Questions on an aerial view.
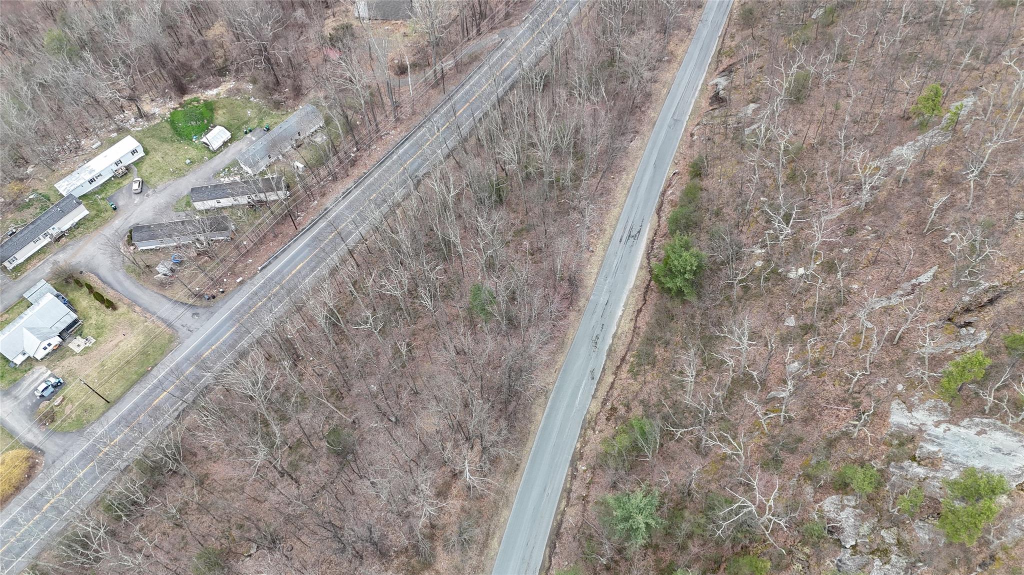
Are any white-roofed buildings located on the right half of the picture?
No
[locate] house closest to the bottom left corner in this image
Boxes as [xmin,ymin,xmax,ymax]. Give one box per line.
[0,279,85,366]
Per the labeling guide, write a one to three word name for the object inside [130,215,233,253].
house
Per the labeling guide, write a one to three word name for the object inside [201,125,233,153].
shed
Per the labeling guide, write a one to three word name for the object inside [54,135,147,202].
house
